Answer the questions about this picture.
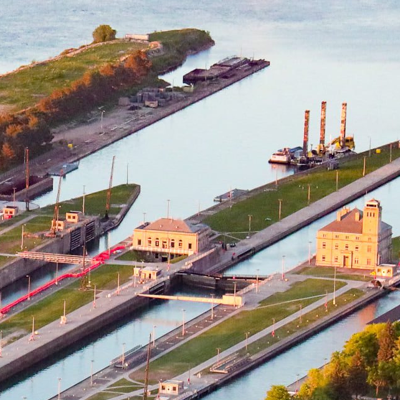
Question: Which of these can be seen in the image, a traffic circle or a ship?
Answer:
ship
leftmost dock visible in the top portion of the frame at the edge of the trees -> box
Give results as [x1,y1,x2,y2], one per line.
[0,28,270,200]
